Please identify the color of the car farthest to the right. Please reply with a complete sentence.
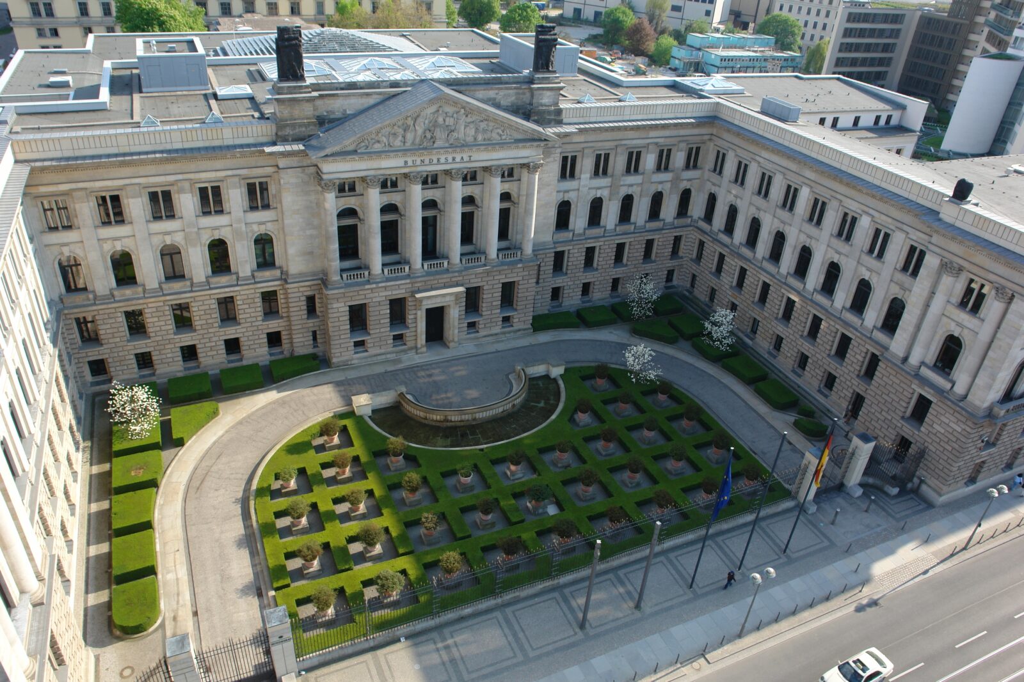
The car farthest to the right is white.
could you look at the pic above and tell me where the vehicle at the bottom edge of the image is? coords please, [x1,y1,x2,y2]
[815,650,891,682]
